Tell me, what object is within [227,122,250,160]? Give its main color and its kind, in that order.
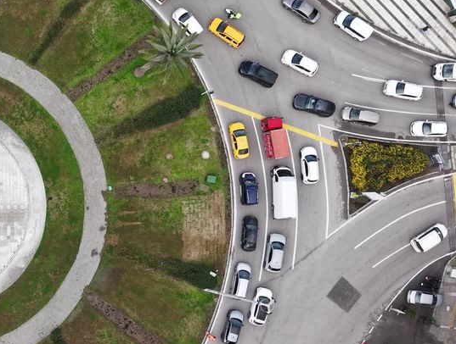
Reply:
yellow car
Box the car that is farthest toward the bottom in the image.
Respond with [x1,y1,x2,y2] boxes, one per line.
[222,308,245,344]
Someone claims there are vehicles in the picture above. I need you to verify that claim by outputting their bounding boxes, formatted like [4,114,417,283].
[239,170,259,205]
[247,285,274,327]
[171,6,207,40]
[330,10,376,42]
[381,79,424,102]
[230,261,252,298]
[236,60,280,89]
[267,165,298,219]
[227,122,250,160]
[408,119,449,138]
[278,48,321,77]
[207,16,248,51]
[427,61,456,83]
[222,308,245,344]
[423,283,444,290]
[258,117,292,161]
[338,105,381,126]
[291,93,338,119]
[279,0,322,25]
[405,222,451,254]
[264,232,287,272]
[298,145,320,184]
[403,288,442,307]
[240,215,260,251]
